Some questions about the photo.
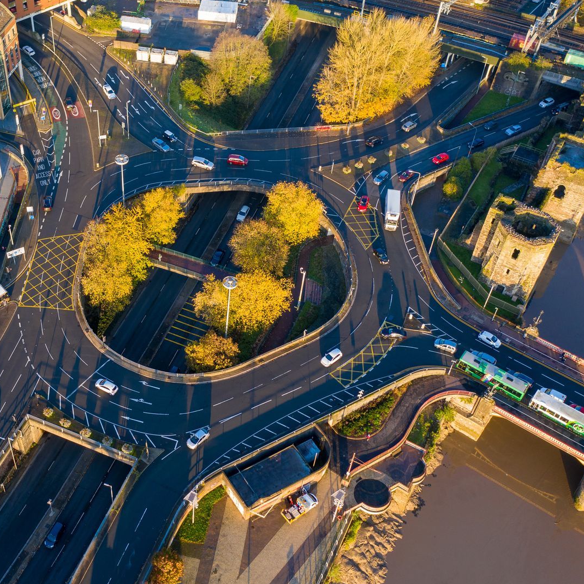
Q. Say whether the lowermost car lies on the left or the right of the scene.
left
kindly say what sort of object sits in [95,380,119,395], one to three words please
car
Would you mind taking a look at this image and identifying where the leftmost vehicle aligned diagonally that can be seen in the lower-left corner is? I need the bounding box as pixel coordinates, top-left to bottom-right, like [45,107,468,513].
[44,522,66,549]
